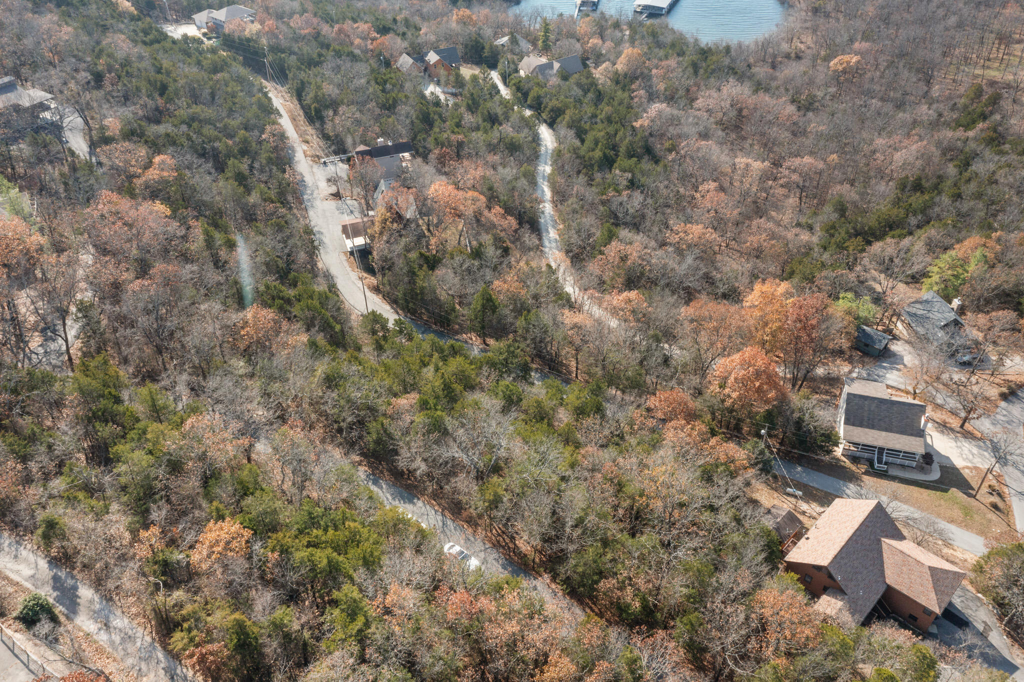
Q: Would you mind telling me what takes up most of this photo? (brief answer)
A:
trees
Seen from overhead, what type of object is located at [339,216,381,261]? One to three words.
building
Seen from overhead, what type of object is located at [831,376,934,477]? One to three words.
house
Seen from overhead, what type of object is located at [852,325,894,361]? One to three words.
shed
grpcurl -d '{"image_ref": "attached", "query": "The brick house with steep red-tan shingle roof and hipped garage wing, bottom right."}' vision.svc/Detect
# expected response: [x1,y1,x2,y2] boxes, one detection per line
[768,496,965,668]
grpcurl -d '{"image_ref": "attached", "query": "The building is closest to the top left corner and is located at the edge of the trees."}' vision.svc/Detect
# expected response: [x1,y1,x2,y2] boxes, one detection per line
[0,73,64,130]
